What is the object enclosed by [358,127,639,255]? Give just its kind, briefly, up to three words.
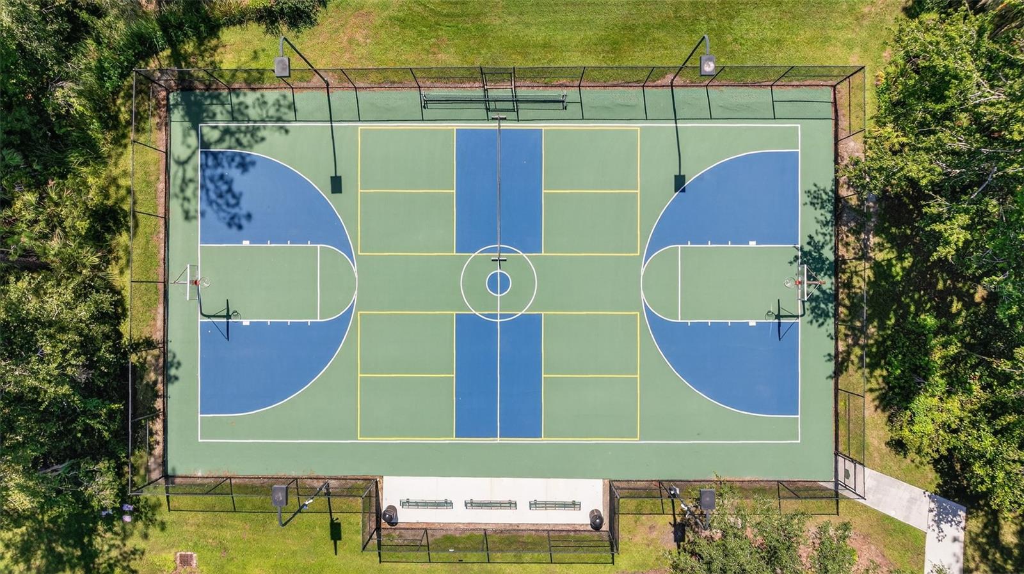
sports court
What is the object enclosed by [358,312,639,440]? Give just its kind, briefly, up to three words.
sports court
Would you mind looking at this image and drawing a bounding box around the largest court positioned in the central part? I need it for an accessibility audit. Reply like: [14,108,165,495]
[167,87,834,481]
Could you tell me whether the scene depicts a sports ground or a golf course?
sports ground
